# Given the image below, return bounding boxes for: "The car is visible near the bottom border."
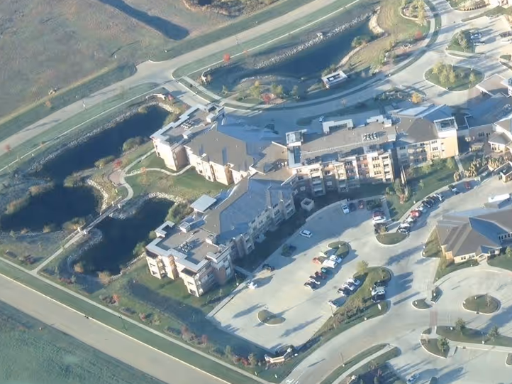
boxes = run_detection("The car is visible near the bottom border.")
[406,371,420,384]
